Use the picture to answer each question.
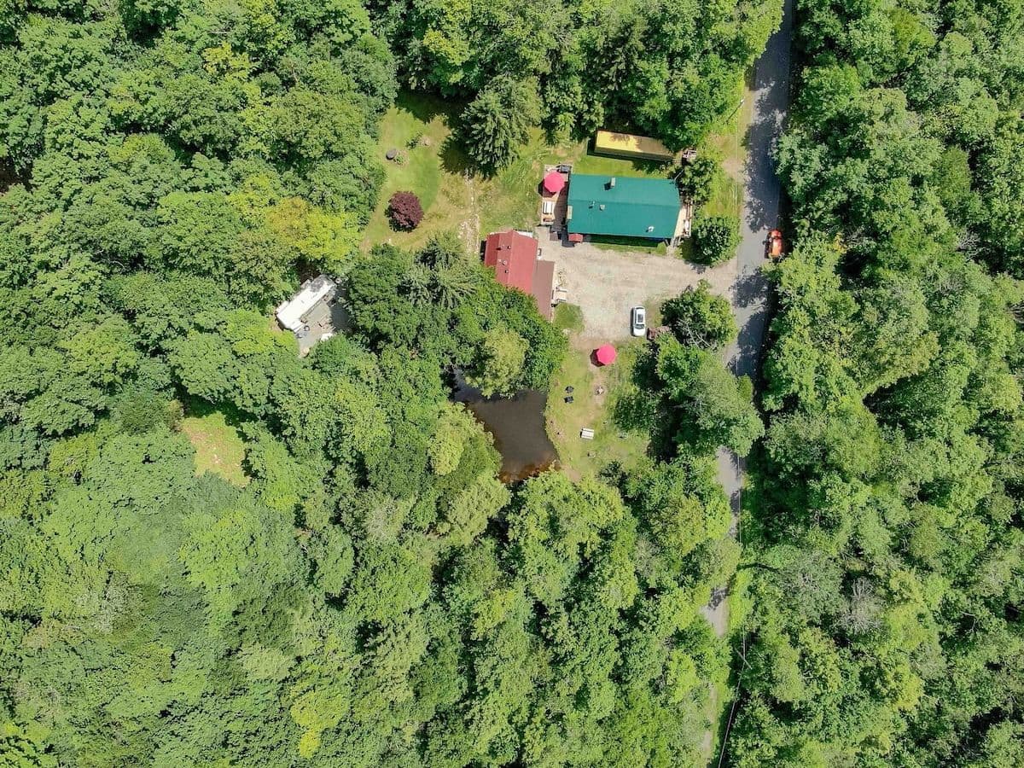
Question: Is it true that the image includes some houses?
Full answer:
Yes, the frame does contain a house.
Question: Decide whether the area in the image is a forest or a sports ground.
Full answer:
It's a forest.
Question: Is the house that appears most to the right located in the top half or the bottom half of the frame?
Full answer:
It is in the top half that the house that appears most to the right appears.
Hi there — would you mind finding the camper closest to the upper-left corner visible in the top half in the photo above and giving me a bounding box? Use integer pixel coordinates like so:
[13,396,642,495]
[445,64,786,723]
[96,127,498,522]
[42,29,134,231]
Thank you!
[275,274,339,333]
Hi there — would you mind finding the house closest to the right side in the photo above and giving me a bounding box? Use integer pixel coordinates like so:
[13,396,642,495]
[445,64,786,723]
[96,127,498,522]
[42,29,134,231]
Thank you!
[567,174,681,243]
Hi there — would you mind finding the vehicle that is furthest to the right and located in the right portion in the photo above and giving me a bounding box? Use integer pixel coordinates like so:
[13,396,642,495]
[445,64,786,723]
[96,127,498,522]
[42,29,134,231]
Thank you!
[768,231,783,260]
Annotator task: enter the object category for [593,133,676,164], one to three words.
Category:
trailer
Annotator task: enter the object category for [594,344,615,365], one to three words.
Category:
umbrella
